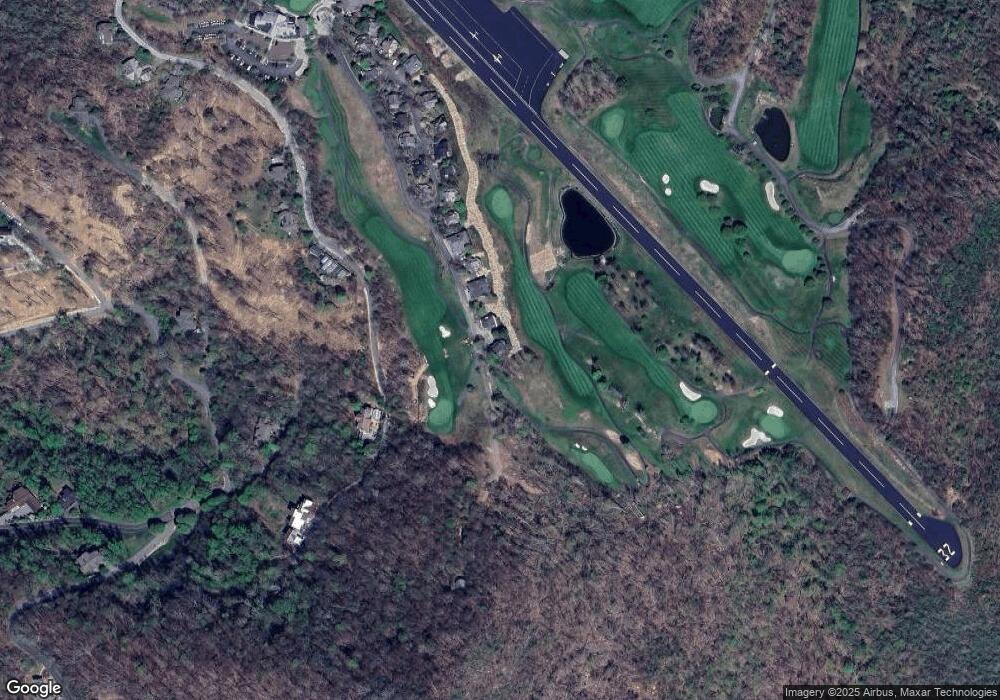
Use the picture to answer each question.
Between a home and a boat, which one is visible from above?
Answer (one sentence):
Of the two, only a home appears.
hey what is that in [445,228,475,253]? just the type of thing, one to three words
house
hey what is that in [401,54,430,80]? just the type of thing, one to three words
house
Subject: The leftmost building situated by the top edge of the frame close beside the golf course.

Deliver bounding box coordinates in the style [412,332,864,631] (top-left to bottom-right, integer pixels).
[253,9,297,40]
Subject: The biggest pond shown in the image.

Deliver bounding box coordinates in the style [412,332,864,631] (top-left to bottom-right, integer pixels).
[560,187,617,259]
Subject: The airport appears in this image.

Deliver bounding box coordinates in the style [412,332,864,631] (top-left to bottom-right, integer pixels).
[404,0,962,568]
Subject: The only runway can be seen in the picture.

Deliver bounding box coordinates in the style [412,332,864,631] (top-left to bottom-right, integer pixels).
[404,0,962,568]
